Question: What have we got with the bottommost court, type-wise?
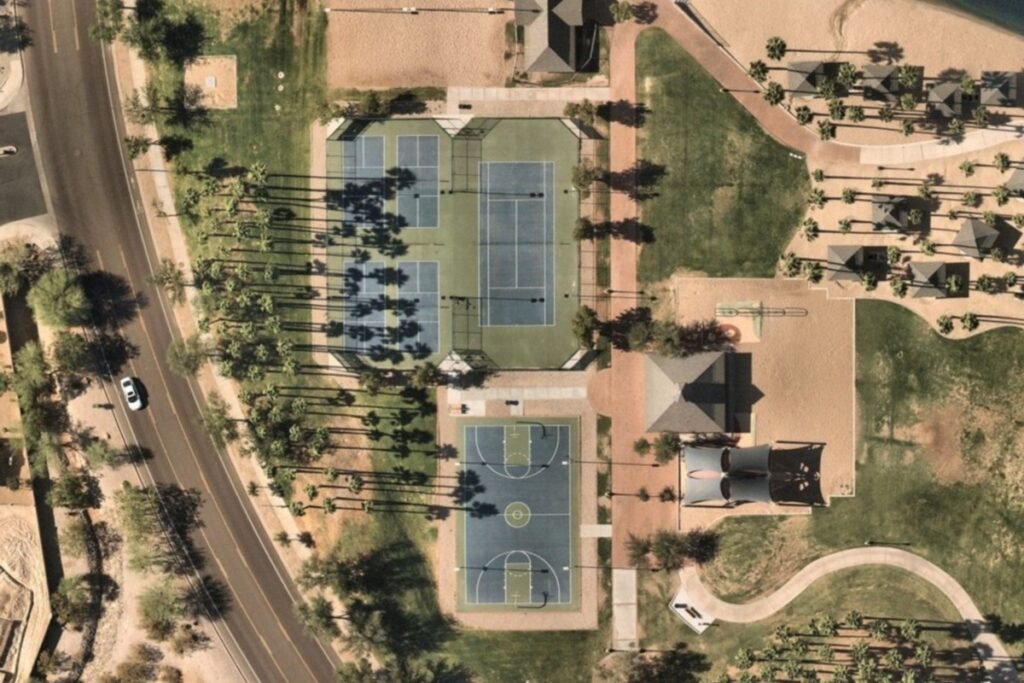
basketball court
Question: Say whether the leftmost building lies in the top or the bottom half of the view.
top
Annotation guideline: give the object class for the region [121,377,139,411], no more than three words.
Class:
car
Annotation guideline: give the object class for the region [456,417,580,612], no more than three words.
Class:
basketball court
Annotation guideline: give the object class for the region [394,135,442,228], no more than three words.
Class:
sports court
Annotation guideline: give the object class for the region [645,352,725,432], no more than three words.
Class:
building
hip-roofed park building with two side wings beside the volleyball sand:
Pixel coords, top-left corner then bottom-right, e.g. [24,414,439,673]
[514,0,582,72]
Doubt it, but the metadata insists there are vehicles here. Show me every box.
[0,144,16,158]
[121,377,139,411]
